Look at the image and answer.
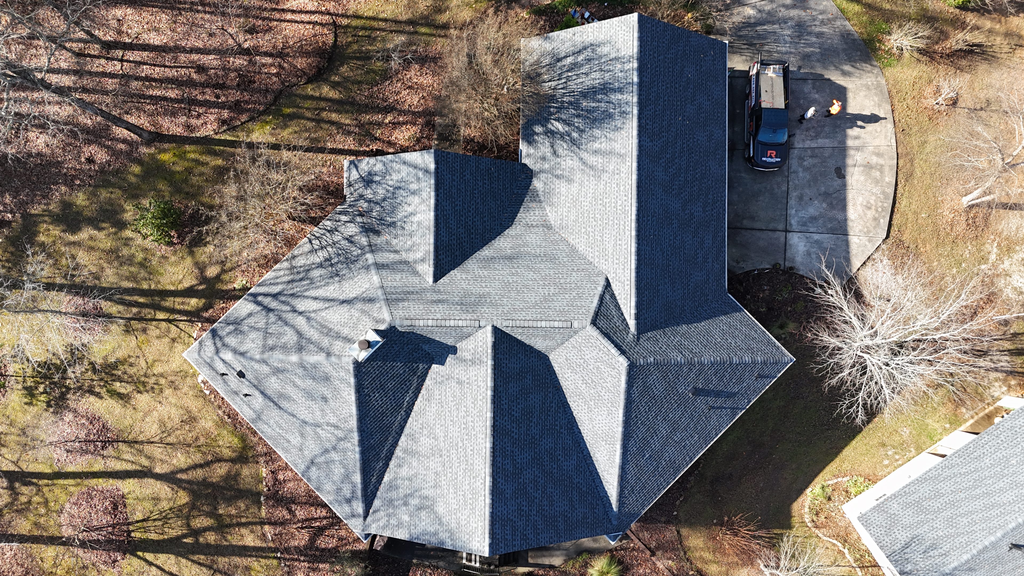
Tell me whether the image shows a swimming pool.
No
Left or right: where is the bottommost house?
right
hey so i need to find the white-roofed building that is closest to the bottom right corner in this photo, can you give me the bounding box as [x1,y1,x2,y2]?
[842,396,1024,576]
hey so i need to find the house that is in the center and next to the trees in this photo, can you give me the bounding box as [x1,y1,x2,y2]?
[183,14,796,554]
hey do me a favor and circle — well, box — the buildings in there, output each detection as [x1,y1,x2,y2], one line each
[183,14,796,554]
[842,396,1024,576]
